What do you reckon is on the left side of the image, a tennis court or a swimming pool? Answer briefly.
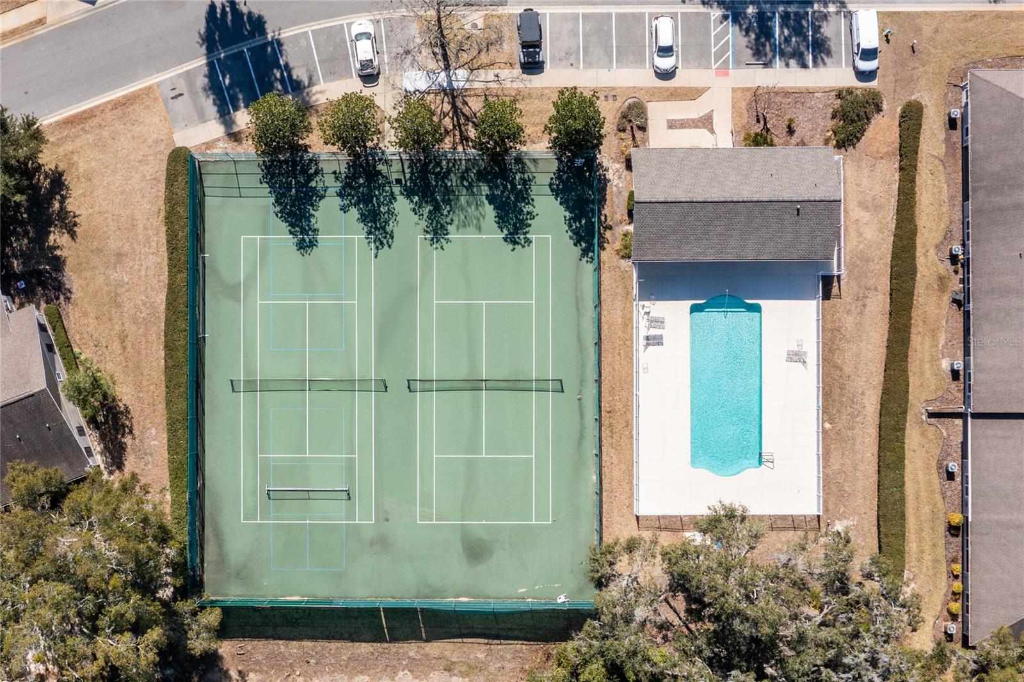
tennis court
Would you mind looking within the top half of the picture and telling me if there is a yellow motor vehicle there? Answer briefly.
No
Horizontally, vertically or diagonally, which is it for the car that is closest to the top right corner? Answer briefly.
vertically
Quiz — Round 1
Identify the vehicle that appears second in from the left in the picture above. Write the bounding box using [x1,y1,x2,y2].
[518,7,544,67]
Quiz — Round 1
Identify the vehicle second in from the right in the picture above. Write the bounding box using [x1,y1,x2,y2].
[651,16,680,74]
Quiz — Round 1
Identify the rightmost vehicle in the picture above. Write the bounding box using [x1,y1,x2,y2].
[849,7,882,72]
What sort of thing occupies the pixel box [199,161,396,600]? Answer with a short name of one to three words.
tennis court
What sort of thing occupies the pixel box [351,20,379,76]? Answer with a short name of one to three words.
car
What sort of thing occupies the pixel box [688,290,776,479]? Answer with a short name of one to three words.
swimming pool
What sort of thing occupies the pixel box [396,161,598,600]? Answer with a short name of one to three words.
tennis court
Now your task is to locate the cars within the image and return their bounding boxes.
[351,20,379,76]
[651,16,680,74]
[849,7,882,72]
[518,7,544,67]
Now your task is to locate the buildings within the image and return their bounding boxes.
[0,303,99,506]
[632,147,841,262]
[946,69,1024,639]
